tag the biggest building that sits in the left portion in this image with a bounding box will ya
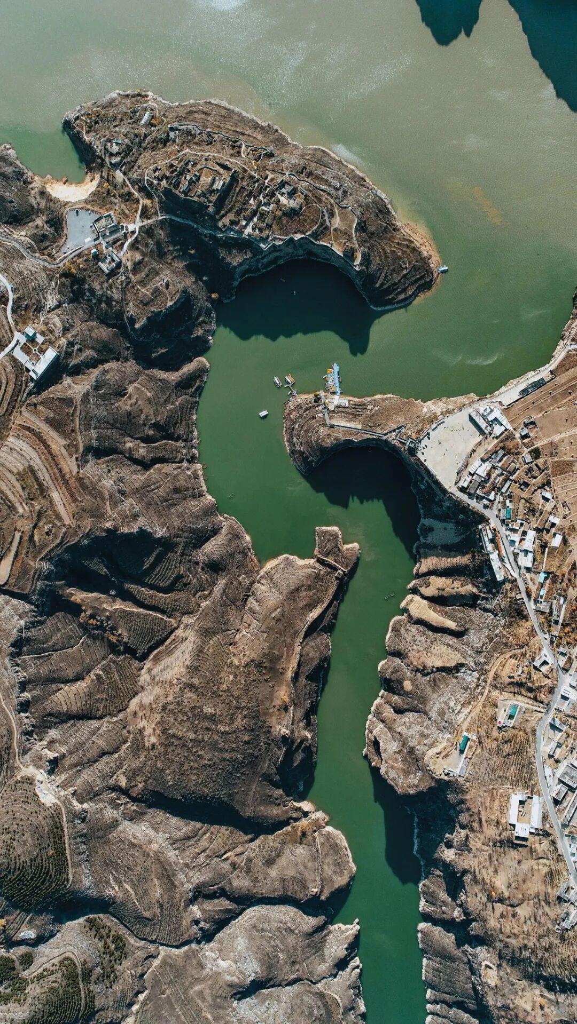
[35,348,66,379]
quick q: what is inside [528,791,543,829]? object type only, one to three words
house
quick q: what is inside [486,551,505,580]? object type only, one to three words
house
